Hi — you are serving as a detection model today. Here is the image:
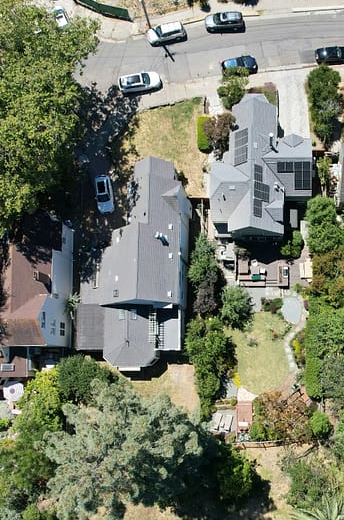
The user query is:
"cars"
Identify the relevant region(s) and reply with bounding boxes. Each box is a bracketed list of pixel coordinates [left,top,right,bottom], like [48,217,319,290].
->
[50,7,72,32]
[118,71,160,94]
[222,56,258,73]
[205,12,246,34]
[313,46,344,65]
[146,22,188,46]
[95,175,115,214]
